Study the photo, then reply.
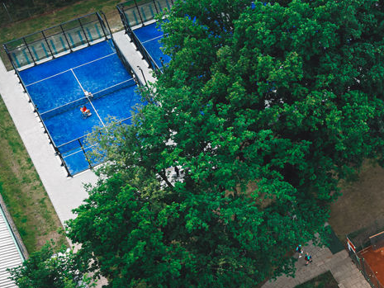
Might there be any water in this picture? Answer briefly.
No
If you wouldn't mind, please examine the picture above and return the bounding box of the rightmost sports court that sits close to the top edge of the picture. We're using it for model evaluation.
[123,0,214,101]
